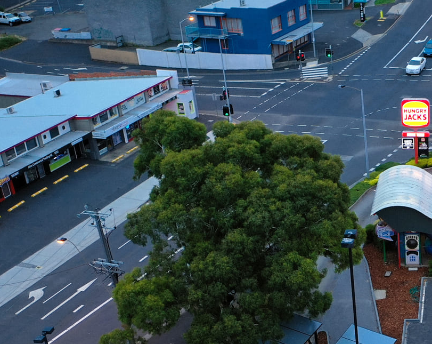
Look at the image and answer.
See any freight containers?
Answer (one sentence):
No, there isn't any freight container down there.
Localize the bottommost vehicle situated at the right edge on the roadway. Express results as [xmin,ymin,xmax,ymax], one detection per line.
[403,55,428,73]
